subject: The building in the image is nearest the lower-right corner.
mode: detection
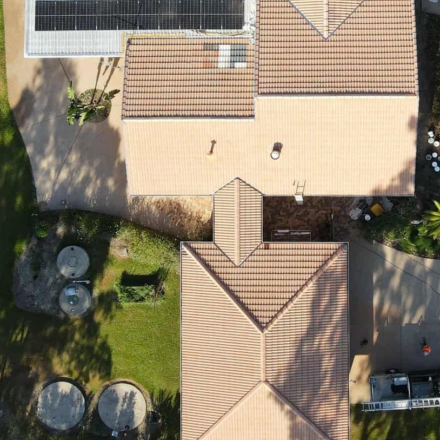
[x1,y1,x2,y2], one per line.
[177,239,351,440]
